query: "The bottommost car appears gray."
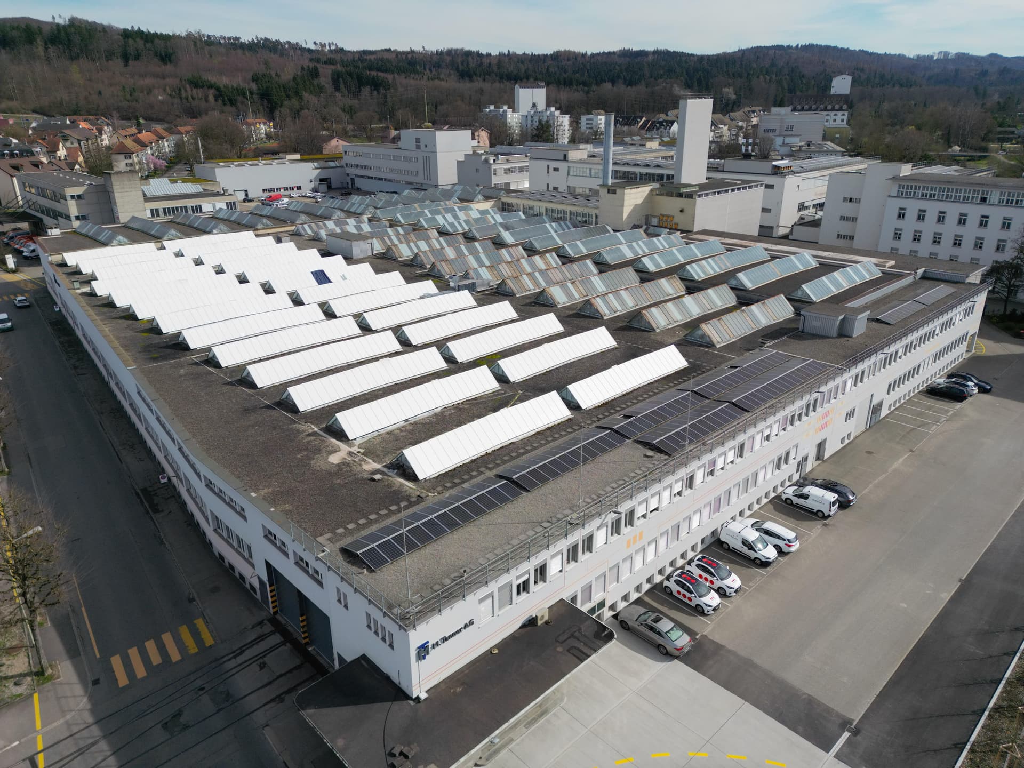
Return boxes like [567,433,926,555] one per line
[615,602,695,657]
